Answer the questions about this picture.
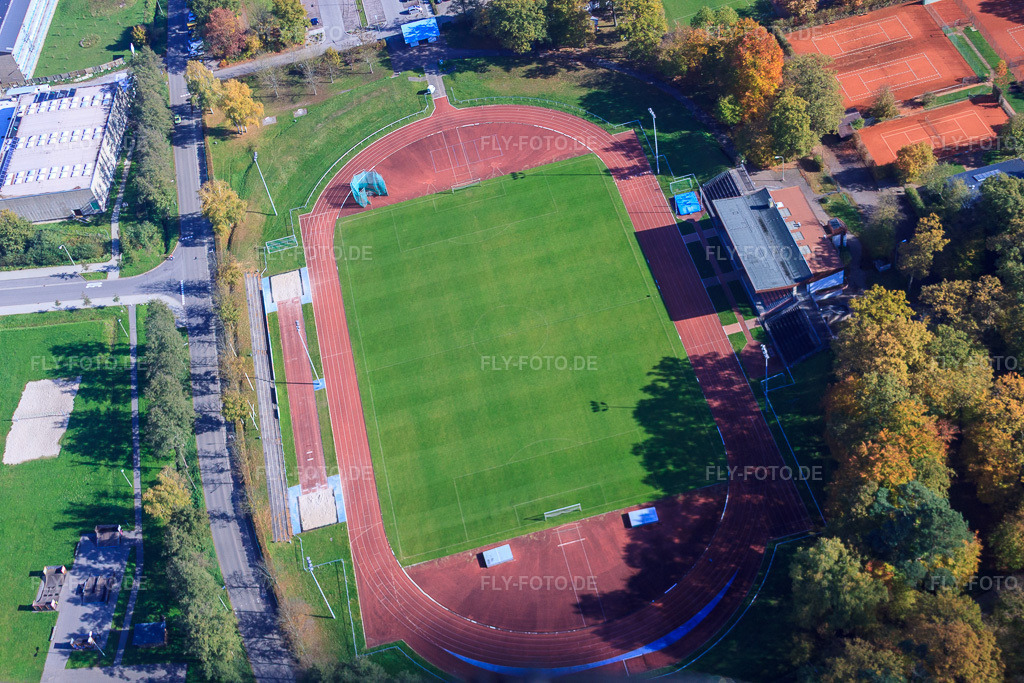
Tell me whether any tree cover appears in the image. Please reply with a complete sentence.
Yes, there is tree cover in the image.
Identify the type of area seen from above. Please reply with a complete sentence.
This looks like a sports ground.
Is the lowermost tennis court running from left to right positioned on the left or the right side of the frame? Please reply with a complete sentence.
The lowermost tennis court running from left to right appears in the right half of the scene.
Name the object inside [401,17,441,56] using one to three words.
building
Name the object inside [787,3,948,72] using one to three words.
tennis court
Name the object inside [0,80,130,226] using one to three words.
building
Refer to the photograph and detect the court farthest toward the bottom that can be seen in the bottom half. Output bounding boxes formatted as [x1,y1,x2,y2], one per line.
[4,377,81,463]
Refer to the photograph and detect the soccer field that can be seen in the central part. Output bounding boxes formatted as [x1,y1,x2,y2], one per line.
[334,153,728,565]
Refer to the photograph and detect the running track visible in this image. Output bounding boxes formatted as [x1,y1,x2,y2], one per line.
[299,97,815,683]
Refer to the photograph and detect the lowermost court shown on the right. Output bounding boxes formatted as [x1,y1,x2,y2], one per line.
[861,95,1008,168]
